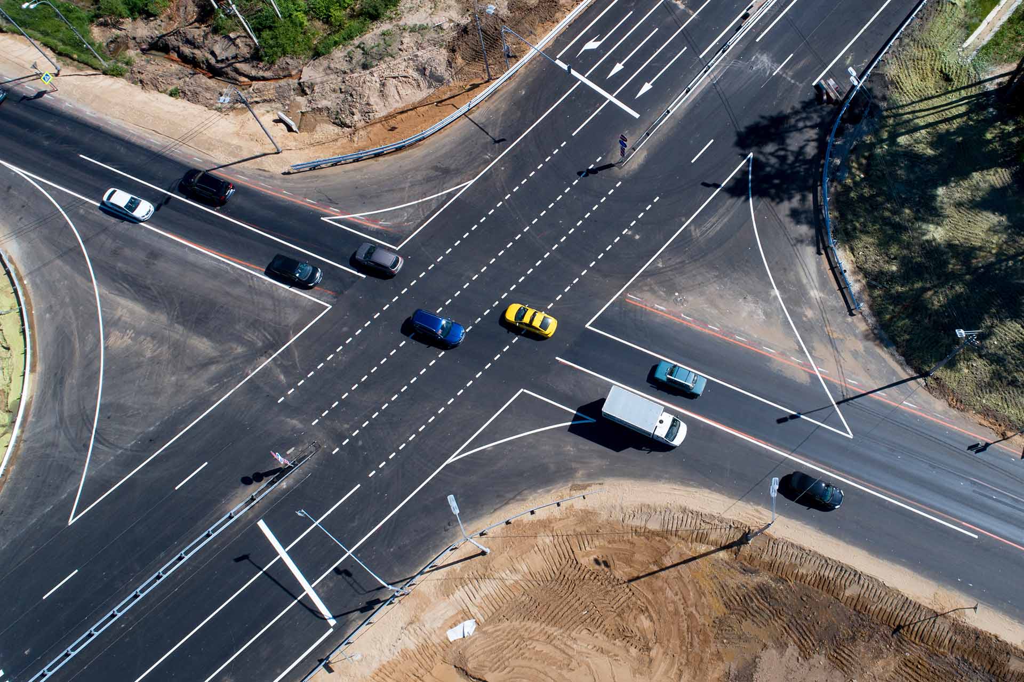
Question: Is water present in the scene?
No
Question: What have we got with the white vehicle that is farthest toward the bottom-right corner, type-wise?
truck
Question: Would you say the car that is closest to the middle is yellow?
Yes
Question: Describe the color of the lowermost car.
black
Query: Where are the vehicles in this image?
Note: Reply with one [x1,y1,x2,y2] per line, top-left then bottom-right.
[652,362,707,398]
[356,246,407,277]
[103,188,154,217]
[412,306,467,343]
[268,251,323,285]
[504,303,558,336]
[785,468,847,507]
[600,385,688,452]
[183,171,237,204]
